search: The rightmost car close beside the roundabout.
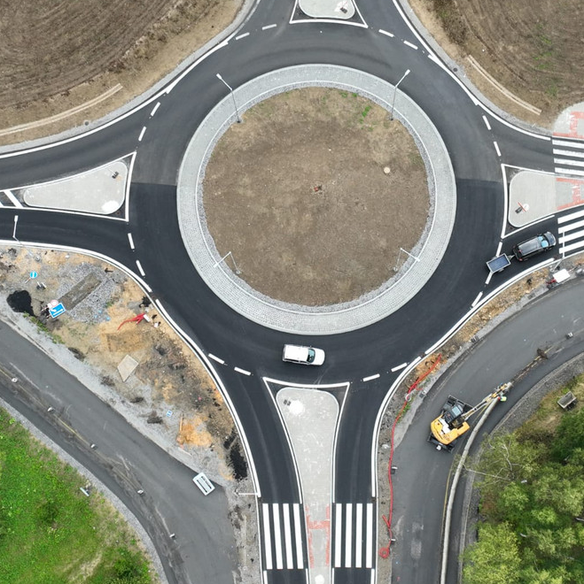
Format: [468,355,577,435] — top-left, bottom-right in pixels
[511,232,556,262]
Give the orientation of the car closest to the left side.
from side to side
